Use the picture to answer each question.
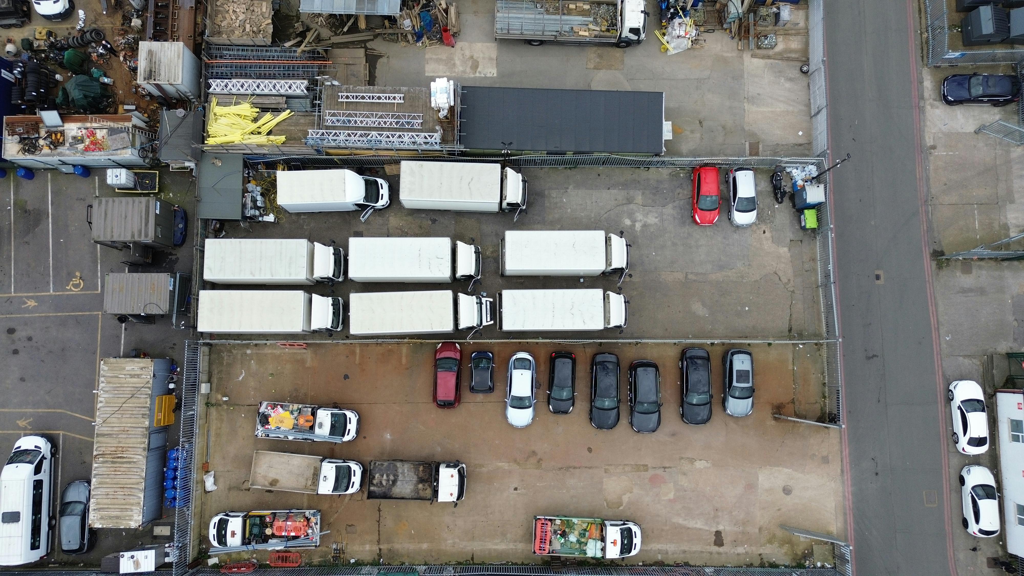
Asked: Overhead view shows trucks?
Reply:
Yes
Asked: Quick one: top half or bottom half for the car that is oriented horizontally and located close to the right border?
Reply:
top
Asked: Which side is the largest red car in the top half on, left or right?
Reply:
right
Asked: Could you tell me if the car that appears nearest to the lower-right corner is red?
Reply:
No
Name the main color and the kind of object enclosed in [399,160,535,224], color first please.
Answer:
white truck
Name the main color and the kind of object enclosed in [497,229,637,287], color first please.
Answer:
white truck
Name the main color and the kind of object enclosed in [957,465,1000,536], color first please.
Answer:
white car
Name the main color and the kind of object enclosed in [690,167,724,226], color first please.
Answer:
red car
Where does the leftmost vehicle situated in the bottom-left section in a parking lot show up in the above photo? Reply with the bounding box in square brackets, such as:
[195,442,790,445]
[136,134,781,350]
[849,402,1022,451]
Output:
[0,435,59,574]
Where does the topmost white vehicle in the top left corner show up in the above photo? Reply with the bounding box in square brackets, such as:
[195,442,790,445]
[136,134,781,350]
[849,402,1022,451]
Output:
[33,0,73,21]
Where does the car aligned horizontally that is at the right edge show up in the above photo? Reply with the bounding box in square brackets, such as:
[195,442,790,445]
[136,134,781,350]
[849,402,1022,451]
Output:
[938,70,1024,108]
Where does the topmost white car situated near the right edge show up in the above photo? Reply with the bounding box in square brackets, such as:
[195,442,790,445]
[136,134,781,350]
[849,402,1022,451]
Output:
[946,381,988,454]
